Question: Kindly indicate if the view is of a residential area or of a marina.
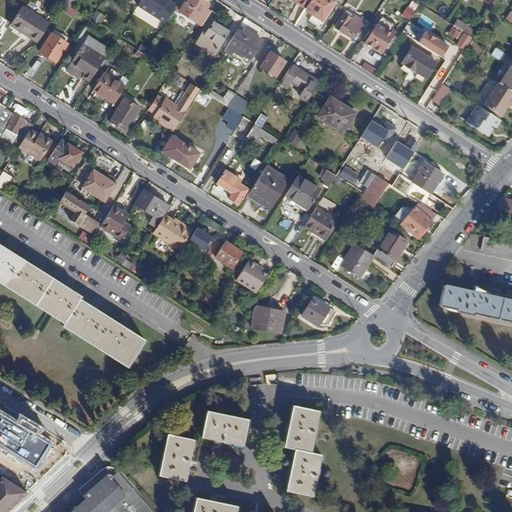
residential area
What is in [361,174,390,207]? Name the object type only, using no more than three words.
building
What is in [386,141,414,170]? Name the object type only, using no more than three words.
house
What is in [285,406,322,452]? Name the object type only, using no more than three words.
building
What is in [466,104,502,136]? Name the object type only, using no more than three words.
house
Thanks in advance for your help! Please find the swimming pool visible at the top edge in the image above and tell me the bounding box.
[416,13,436,30]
